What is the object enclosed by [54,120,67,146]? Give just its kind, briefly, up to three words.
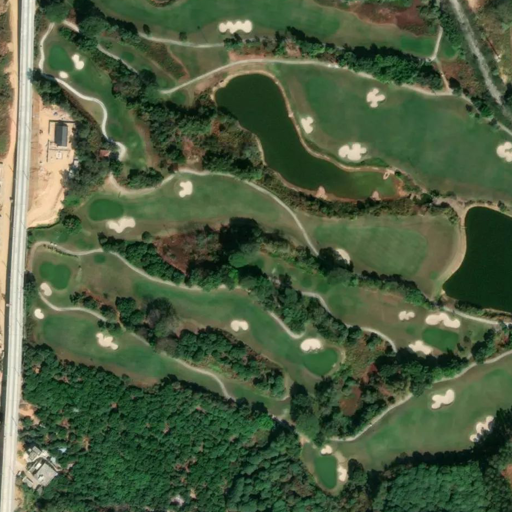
shed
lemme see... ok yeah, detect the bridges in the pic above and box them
[0,0,34,512]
